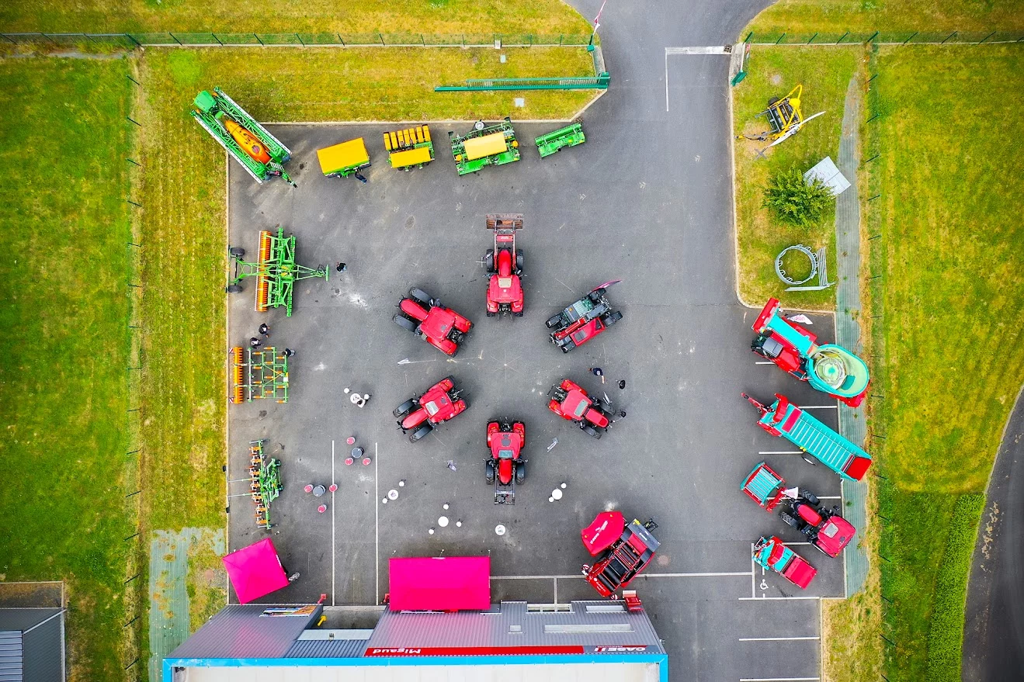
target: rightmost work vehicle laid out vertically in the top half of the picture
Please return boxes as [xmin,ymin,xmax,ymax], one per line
[484,220,526,322]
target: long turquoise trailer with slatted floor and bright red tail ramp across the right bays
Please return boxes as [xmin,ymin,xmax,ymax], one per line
[740,392,872,484]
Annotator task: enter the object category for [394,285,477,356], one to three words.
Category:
work vehicle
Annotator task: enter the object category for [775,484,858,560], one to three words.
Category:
work vehicle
